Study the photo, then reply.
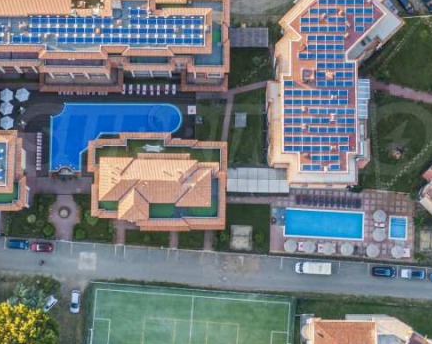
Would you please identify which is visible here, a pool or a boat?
pool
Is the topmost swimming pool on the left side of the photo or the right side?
left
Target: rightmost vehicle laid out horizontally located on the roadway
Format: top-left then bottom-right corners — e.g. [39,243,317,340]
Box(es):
[400,268,426,281]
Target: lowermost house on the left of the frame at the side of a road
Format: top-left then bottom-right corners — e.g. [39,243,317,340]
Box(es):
[88,134,227,231]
